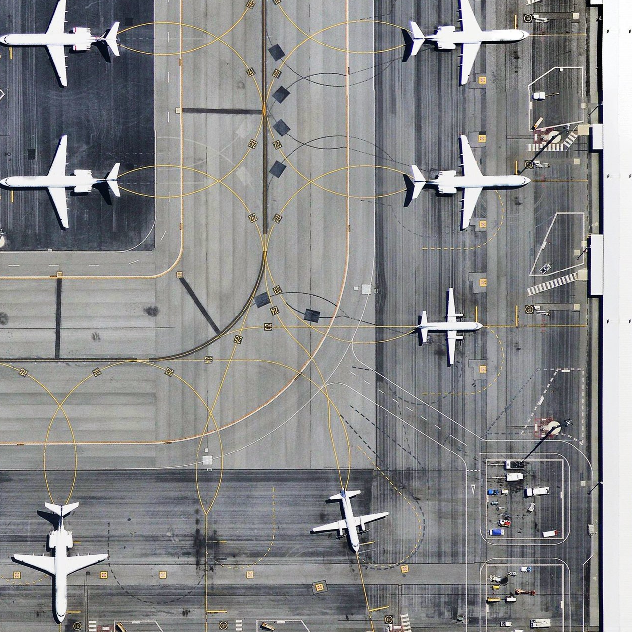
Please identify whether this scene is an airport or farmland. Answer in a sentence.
This image shows an airport.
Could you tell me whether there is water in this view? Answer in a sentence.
No, the scene doesn't show any water.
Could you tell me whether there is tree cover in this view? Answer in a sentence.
No, there's no tree cover in this view.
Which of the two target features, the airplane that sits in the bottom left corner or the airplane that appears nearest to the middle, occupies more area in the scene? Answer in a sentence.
The airplane that sits in the bottom left corner is larger than the airplane that appears nearest to the middle.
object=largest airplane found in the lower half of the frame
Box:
[14,502,109,623]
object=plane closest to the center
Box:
[419,288,482,364]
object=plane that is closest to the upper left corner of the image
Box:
[0,0,121,87]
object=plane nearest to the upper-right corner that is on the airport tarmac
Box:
[409,0,529,82]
